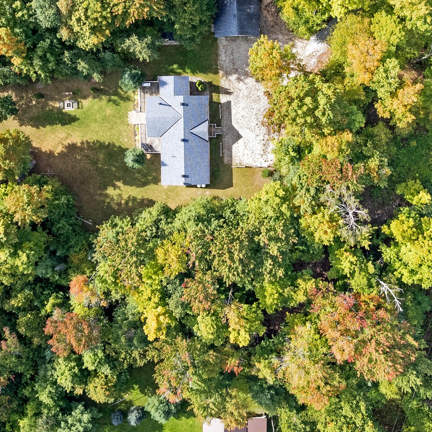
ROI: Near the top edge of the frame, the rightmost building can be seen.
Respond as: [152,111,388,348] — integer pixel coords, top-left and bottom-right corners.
[215,0,259,38]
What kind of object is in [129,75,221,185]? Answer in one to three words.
house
